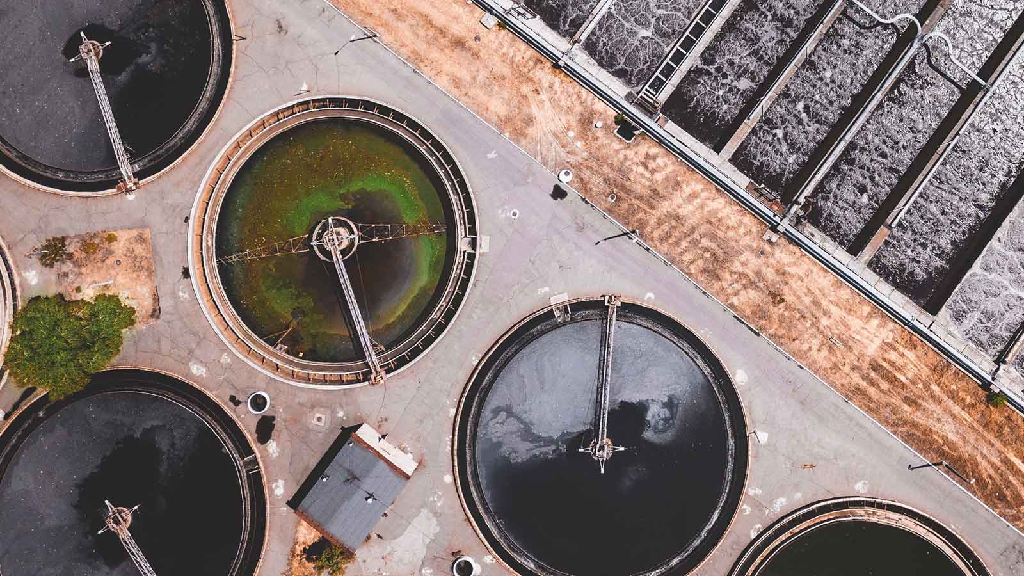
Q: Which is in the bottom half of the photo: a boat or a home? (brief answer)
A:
home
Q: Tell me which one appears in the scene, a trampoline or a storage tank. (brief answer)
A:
storage tank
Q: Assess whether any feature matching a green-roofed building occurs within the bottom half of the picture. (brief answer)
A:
No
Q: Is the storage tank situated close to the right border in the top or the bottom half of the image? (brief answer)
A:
bottom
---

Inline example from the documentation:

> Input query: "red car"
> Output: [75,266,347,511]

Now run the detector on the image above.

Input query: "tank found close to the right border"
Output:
[730,496,991,576]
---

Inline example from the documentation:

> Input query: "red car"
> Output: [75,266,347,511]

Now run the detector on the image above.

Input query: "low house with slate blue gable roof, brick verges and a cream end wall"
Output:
[295,425,420,555]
